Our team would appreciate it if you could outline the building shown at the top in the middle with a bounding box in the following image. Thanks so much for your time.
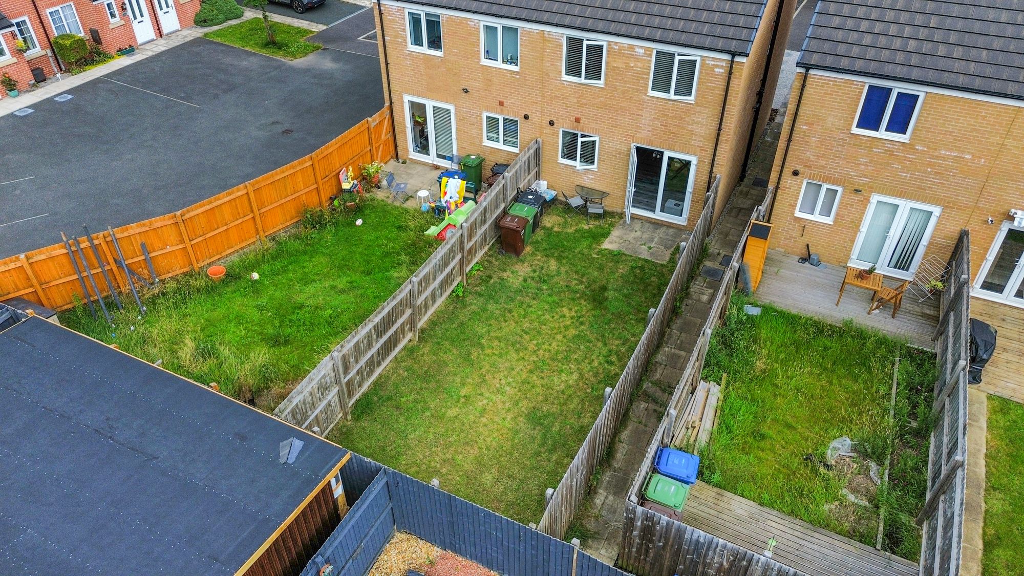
[377,0,793,235]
